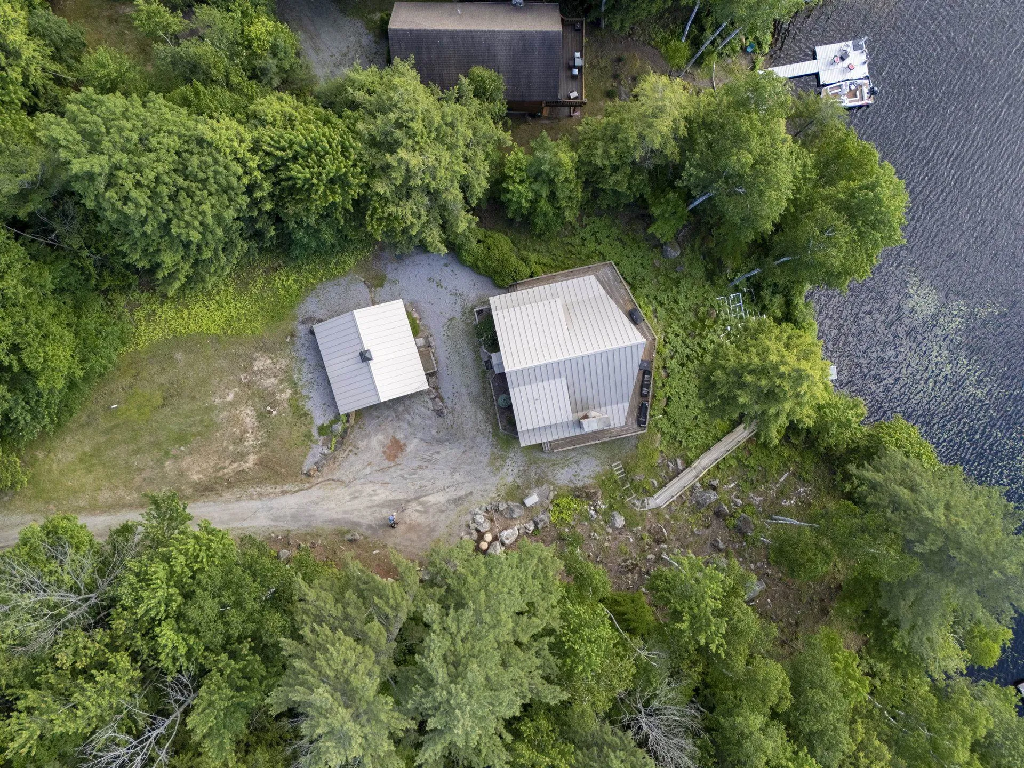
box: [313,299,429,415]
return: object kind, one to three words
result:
building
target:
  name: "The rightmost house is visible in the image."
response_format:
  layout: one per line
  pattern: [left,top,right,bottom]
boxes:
[489,261,657,451]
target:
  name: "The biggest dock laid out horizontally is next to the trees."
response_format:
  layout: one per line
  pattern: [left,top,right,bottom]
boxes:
[754,38,870,87]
